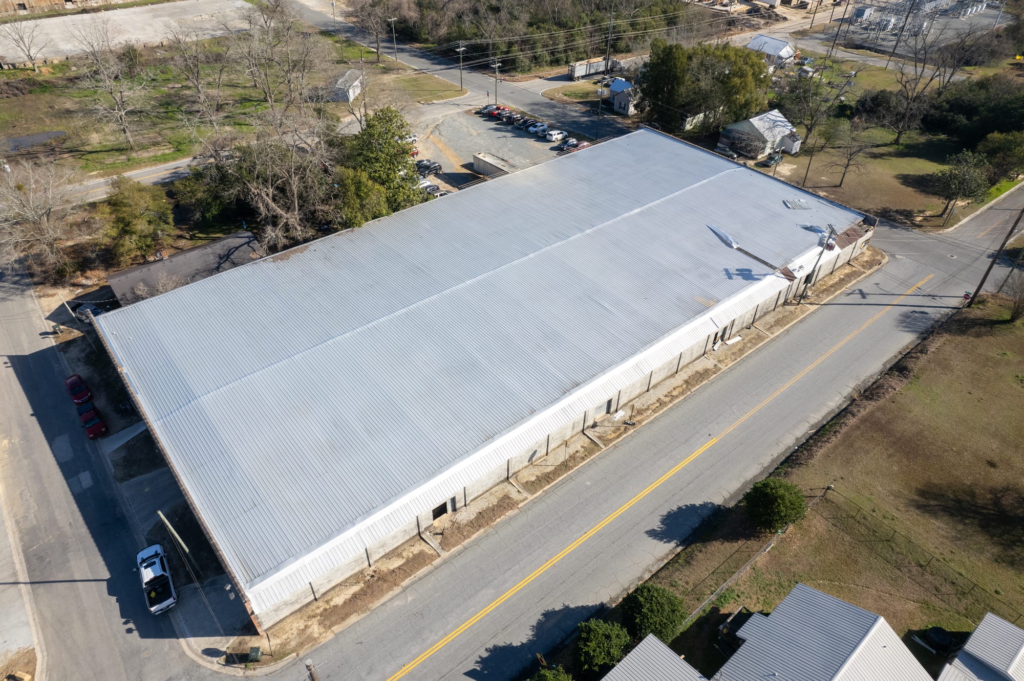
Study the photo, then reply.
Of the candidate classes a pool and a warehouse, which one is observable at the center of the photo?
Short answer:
warehouse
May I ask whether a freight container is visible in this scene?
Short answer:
Yes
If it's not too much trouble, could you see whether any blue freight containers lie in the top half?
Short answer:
No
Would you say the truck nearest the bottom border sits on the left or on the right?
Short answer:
left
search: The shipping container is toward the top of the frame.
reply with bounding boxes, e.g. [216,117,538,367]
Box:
[472,148,523,178]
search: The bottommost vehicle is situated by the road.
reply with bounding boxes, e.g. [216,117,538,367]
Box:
[132,542,181,617]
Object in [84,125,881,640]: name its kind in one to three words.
warehouse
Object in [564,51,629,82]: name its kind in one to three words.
truck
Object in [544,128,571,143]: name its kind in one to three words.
car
